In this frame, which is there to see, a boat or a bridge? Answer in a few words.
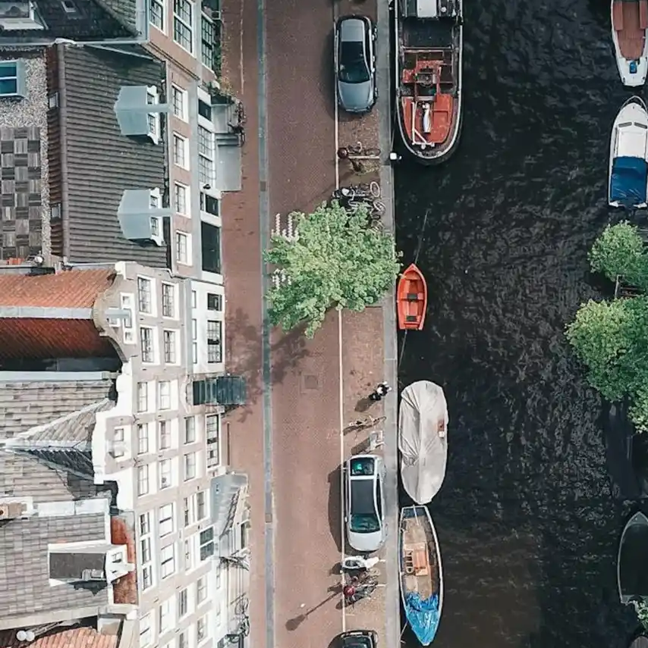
boat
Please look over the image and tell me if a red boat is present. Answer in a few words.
Yes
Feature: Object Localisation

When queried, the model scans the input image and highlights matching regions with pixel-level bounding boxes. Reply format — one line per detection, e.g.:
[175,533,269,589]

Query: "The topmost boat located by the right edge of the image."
[611,0,648,90]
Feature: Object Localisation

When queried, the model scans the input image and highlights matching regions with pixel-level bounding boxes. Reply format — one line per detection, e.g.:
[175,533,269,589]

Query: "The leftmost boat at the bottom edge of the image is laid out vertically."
[399,502,445,648]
